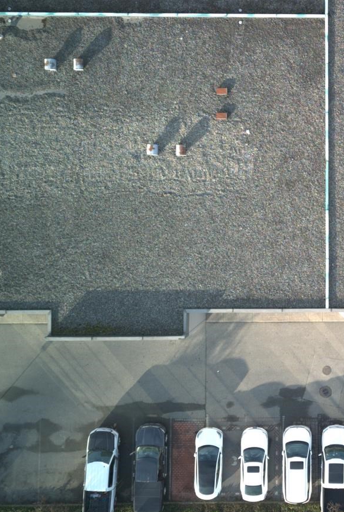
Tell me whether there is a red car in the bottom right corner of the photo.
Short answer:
No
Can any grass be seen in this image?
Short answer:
No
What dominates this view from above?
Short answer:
buildings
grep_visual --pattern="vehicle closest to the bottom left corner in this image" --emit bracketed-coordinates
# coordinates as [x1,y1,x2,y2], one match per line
[80,423,122,512]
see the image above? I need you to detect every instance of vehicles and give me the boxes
[237,423,273,500]
[131,421,170,512]
[80,423,122,512]
[278,422,315,504]
[190,423,226,499]
[317,421,344,512]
